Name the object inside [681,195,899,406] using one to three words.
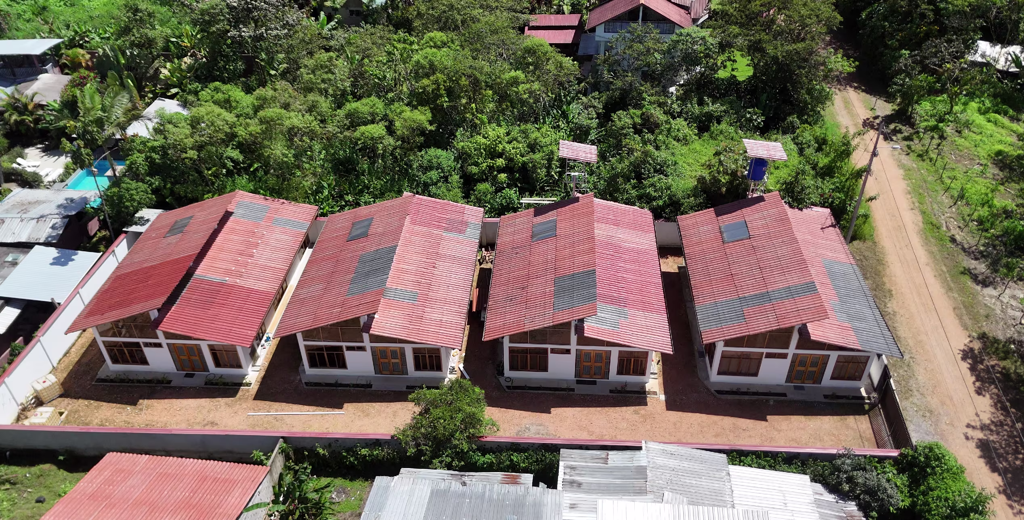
house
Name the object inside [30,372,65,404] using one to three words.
storage tank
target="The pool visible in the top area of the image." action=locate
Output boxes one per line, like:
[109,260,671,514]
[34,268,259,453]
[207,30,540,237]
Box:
[59,147,156,209]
